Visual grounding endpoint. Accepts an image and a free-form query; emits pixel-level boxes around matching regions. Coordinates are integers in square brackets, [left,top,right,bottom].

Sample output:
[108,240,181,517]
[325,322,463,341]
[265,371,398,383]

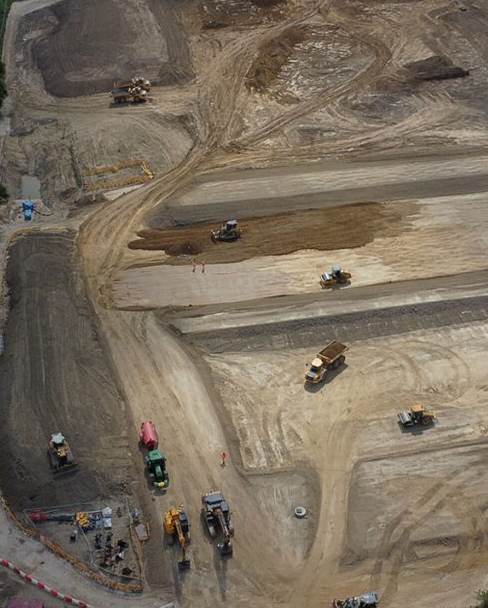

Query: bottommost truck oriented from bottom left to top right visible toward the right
[303,340,350,385]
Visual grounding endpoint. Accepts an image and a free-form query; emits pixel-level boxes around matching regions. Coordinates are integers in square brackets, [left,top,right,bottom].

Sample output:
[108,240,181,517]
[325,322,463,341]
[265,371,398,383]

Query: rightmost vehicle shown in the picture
[398,405,436,427]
